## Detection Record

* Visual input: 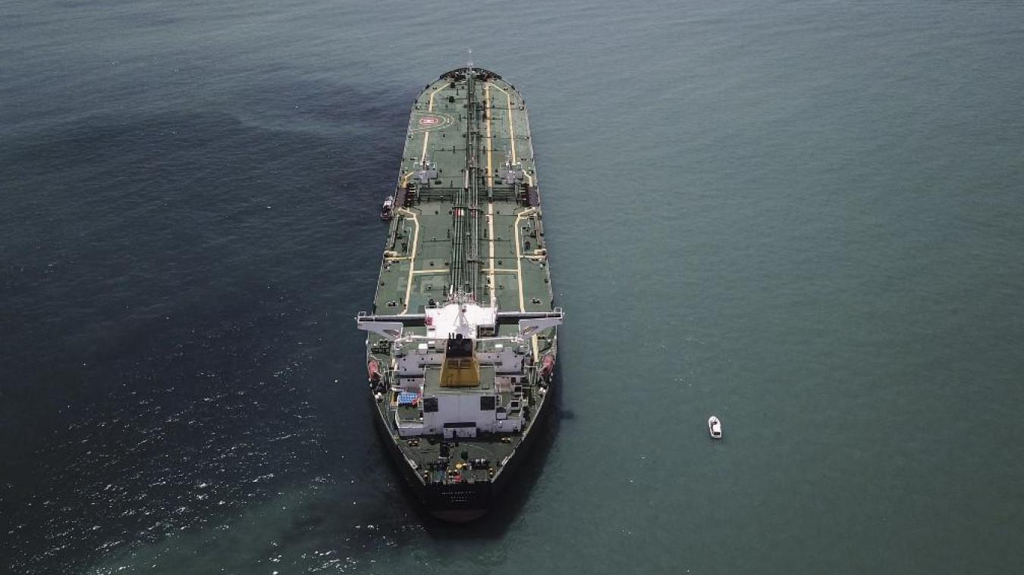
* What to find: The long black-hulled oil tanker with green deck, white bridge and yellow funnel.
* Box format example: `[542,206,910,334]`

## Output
[354,50,567,524]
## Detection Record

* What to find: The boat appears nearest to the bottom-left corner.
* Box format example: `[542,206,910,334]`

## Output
[368,355,382,383]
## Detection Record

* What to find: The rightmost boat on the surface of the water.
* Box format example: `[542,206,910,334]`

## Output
[708,417,723,441]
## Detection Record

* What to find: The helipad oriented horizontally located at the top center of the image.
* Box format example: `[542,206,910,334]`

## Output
[412,113,455,130]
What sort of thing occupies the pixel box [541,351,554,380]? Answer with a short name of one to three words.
boat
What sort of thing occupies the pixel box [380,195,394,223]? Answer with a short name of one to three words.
boat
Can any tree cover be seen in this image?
No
